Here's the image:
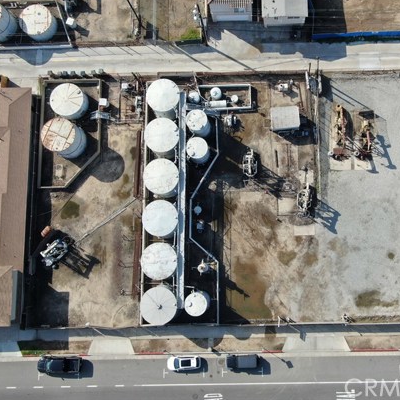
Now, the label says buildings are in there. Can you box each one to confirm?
[208,0,253,22]
[271,106,308,138]
[0,88,32,269]
[262,0,309,34]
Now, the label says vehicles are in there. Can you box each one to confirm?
[226,354,259,372]
[37,355,82,374]
[167,355,201,372]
